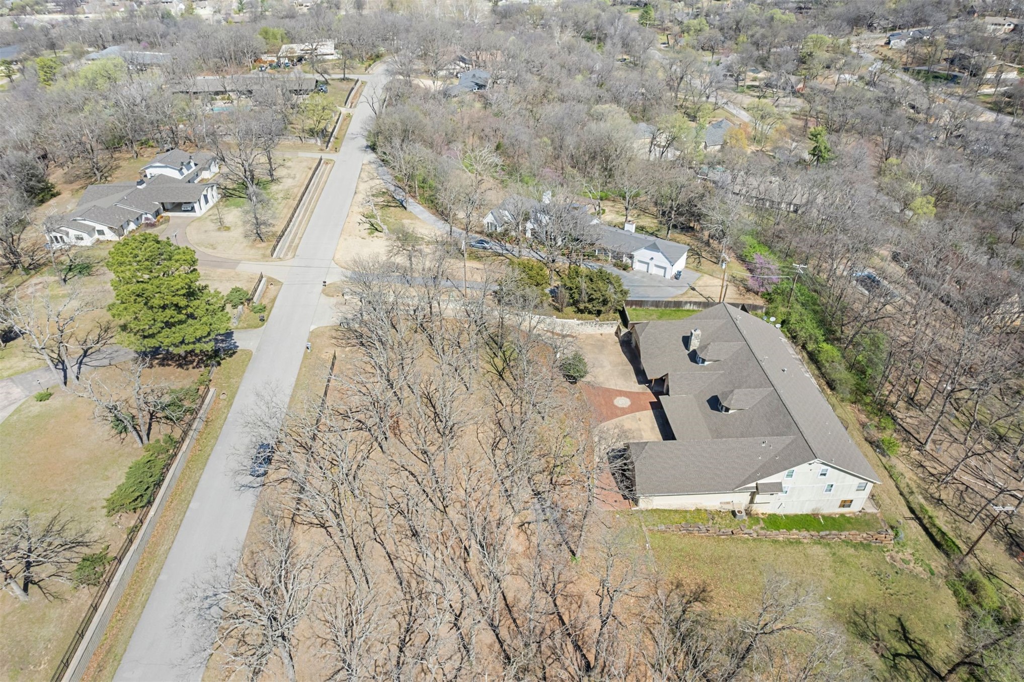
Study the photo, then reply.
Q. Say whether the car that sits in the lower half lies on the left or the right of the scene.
left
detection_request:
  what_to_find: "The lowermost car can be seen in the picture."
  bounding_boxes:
[249,443,274,473]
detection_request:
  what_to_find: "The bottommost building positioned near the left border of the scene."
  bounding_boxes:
[29,147,227,248]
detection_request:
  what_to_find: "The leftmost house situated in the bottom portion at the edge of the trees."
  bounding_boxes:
[620,301,882,520]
